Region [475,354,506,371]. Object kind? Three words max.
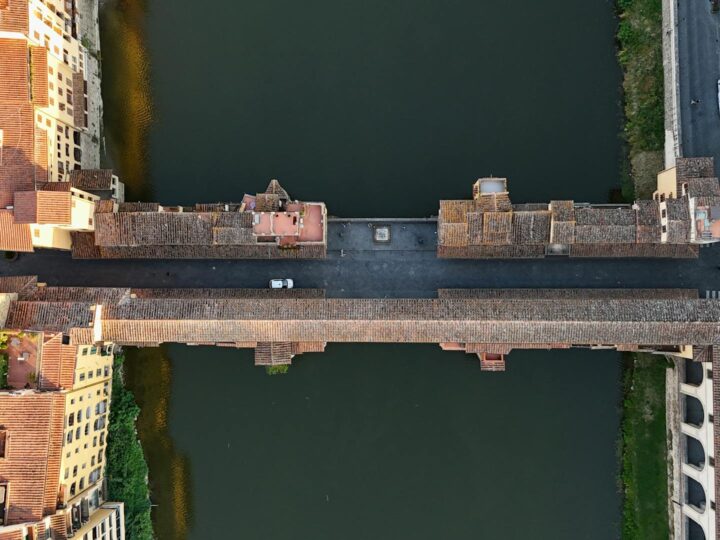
house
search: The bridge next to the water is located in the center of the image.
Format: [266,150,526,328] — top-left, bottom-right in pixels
[80,218,674,343]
